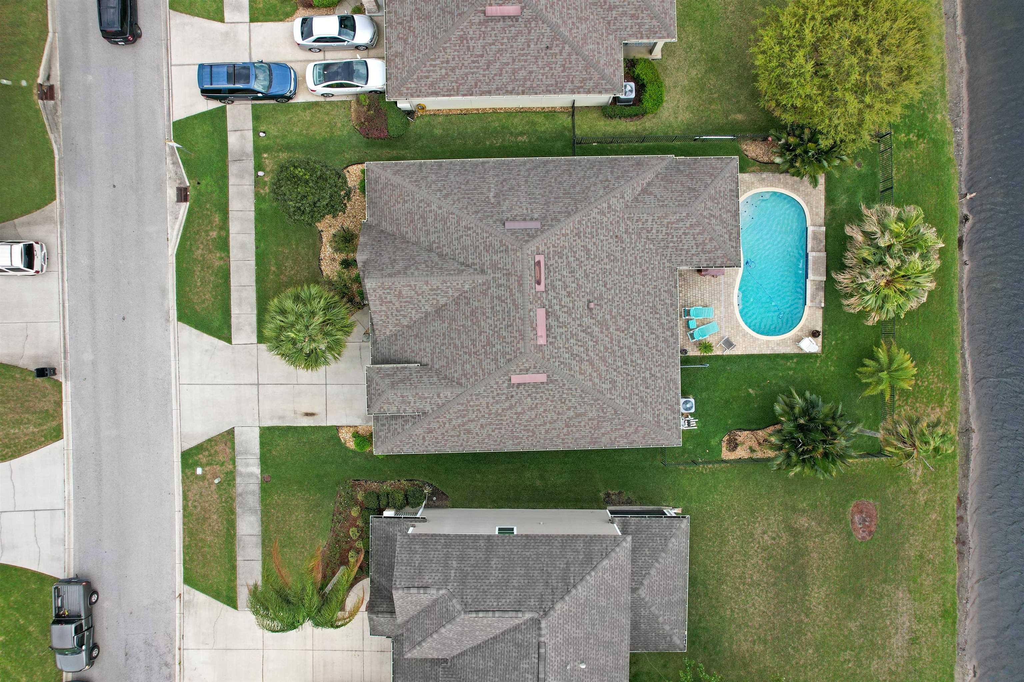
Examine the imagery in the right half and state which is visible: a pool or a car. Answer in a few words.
pool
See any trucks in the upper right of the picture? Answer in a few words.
No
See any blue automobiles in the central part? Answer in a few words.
No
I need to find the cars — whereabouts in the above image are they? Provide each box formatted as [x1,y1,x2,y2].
[292,10,377,53]
[0,241,50,277]
[196,58,297,105]
[98,0,142,43]
[305,56,383,98]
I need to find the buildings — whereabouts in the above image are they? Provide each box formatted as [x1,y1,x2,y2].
[362,0,679,113]
[356,153,743,457]
[366,498,691,682]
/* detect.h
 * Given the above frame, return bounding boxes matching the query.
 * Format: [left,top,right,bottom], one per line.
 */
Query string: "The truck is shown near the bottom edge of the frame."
[47,572,100,673]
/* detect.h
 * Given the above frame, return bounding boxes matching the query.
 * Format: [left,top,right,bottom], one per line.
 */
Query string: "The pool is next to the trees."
[734,187,810,340]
